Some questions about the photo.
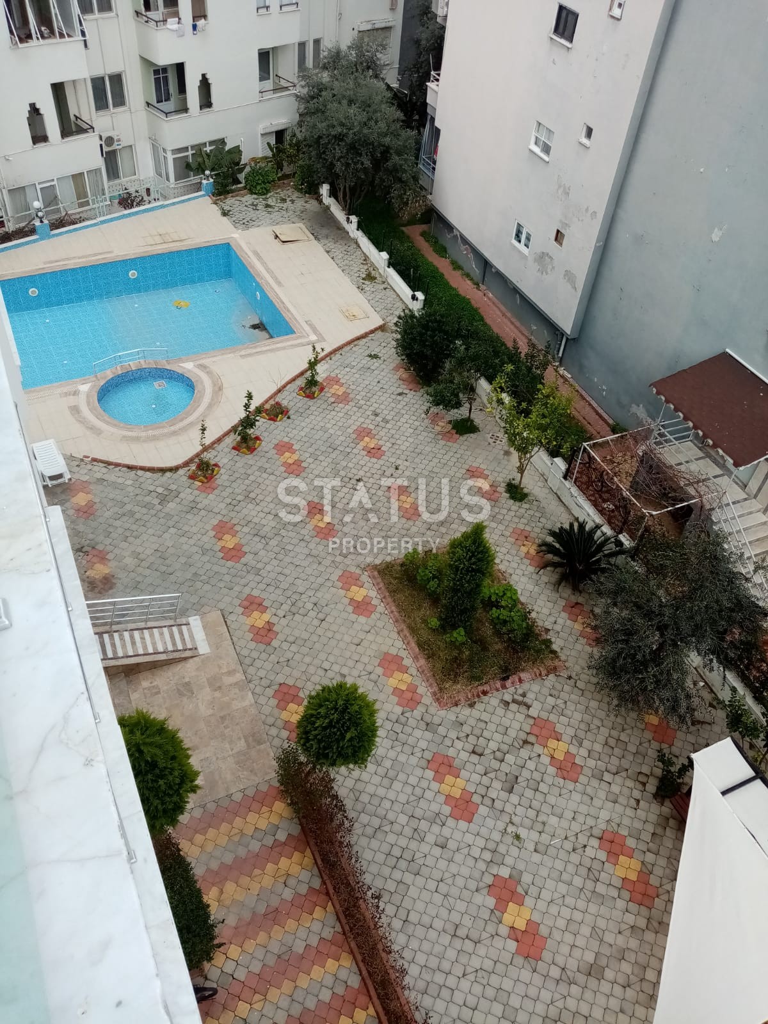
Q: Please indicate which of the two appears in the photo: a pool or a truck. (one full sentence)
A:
There is a pool in the scene.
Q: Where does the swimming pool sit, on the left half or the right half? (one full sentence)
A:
The swimming pool appears in the left half of the scene.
